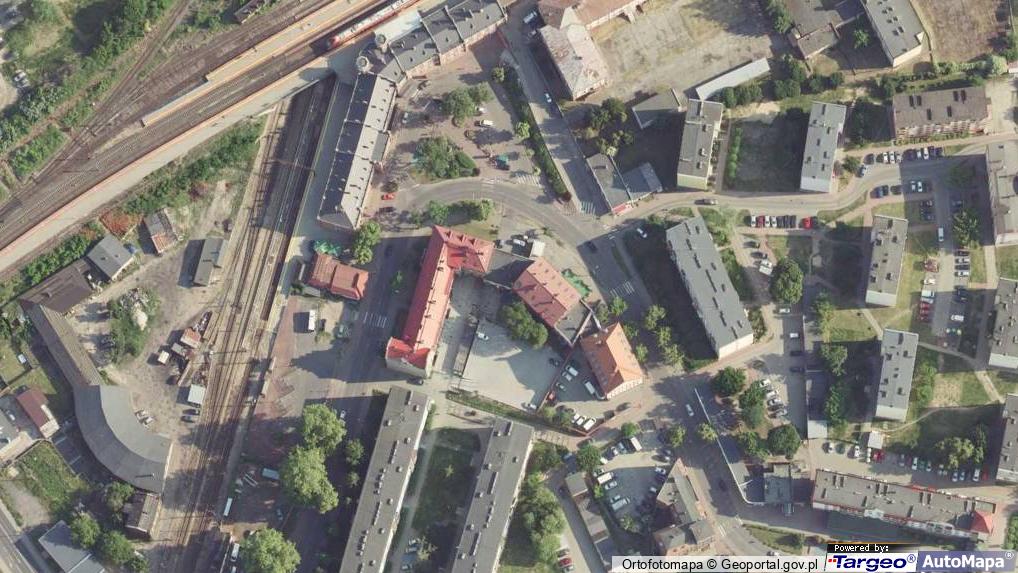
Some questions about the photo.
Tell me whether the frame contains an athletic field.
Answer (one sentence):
No, there is no athletic field in the image.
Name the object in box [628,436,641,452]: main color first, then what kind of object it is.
white vehicle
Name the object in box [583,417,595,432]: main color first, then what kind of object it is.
white vehicle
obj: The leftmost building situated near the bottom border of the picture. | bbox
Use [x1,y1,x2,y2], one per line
[39,520,108,573]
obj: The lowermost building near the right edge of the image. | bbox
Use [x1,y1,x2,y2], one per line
[811,470,996,542]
